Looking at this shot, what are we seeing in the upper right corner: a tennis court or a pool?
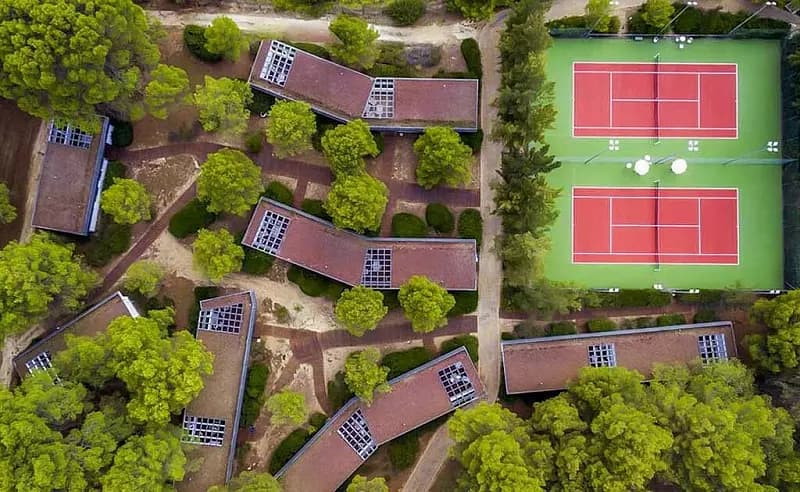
tennis court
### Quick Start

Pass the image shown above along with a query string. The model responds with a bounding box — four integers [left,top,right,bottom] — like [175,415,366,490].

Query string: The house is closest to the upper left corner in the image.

[31,105,111,236]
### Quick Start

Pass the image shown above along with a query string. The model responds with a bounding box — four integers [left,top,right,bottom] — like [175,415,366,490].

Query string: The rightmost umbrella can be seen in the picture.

[669,159,686,173]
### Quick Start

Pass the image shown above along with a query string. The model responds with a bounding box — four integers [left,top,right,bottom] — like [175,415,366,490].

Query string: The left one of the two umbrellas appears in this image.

[633,159,648,174]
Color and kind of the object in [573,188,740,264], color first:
red tennis court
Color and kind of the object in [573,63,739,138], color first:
red tennis court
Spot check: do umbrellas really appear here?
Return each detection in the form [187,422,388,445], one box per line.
[669,159,686,173]
[633,159,648,174]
